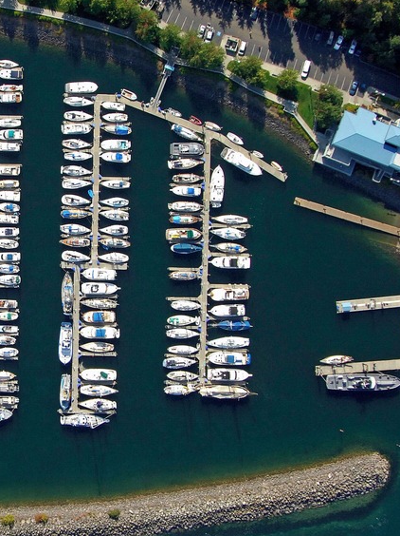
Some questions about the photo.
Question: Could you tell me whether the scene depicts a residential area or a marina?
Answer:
marina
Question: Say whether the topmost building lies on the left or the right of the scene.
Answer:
right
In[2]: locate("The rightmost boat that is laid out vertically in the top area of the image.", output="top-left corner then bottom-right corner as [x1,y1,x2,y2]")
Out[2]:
[211,164,225,204]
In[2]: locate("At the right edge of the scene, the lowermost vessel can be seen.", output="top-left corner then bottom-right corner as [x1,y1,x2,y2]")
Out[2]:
[324,374,400,390]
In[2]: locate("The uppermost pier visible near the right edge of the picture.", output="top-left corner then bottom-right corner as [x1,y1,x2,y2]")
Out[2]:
[293,197,398,234]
